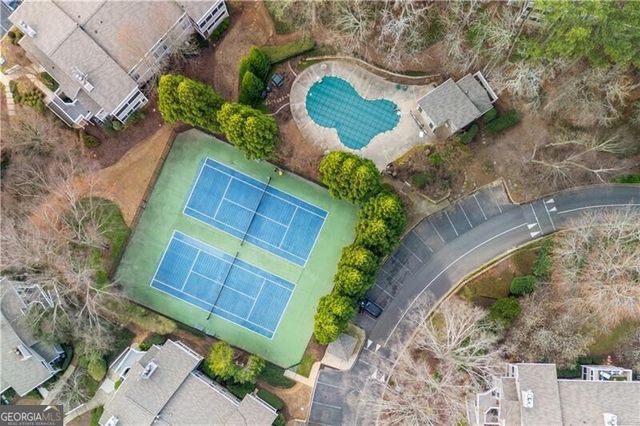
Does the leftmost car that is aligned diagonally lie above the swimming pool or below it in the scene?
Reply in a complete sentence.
Relative to the swimming pool, the leftmost car that is aligned diagonally lies below it.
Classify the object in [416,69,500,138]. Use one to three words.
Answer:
building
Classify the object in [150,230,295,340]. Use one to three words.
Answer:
tennis court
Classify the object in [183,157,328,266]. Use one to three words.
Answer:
tennis court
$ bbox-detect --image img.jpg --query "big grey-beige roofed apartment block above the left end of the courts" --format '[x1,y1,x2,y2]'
[8,0,229,128]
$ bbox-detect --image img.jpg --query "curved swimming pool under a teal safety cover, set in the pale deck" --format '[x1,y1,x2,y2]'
[301,72,403,153]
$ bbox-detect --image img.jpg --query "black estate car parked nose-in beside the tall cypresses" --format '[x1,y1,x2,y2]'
[359,298,386,320]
